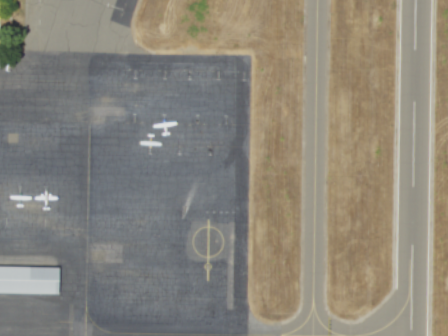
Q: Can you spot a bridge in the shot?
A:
No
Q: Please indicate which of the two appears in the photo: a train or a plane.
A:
plane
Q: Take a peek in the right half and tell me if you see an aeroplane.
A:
No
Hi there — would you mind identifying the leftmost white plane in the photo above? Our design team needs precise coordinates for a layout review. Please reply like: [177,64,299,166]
[9,193,32,208]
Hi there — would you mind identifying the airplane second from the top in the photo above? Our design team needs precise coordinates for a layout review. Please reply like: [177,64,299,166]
[140,134,162,150]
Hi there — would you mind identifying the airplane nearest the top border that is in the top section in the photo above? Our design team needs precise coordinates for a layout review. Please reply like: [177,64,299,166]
[154,120,178,136]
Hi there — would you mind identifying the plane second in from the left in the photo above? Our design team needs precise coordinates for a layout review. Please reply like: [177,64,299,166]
[34,192,58,210]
